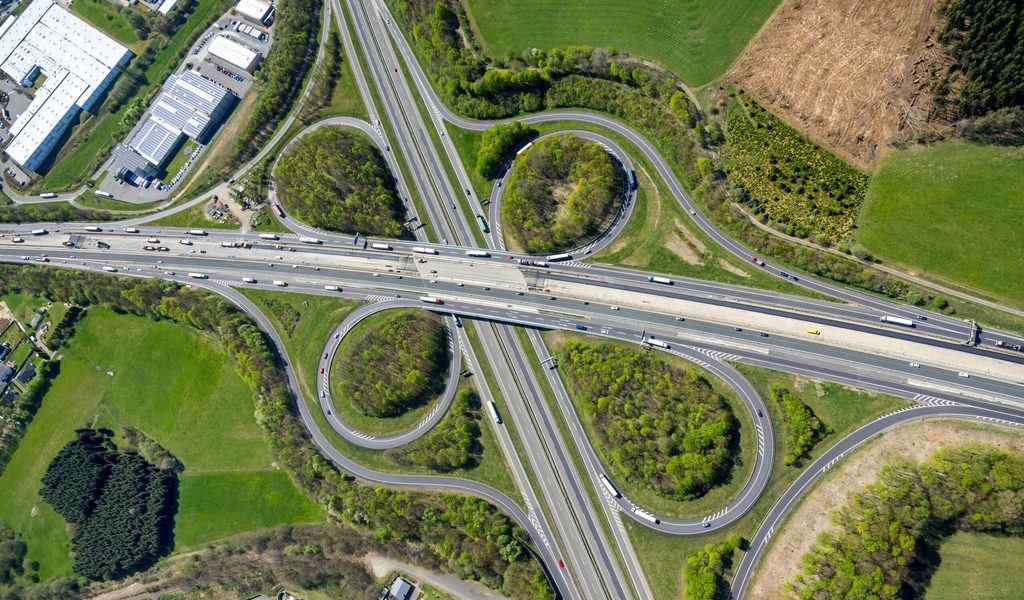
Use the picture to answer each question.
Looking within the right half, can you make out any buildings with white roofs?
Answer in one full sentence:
No, there's no building with a white roof to be seen within the right half.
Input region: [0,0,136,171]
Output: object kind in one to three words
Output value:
building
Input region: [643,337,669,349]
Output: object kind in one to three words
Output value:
vehicle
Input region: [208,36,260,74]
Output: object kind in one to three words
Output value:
building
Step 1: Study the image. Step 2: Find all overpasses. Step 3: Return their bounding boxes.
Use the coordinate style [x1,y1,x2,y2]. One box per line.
[412,242,551,334]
